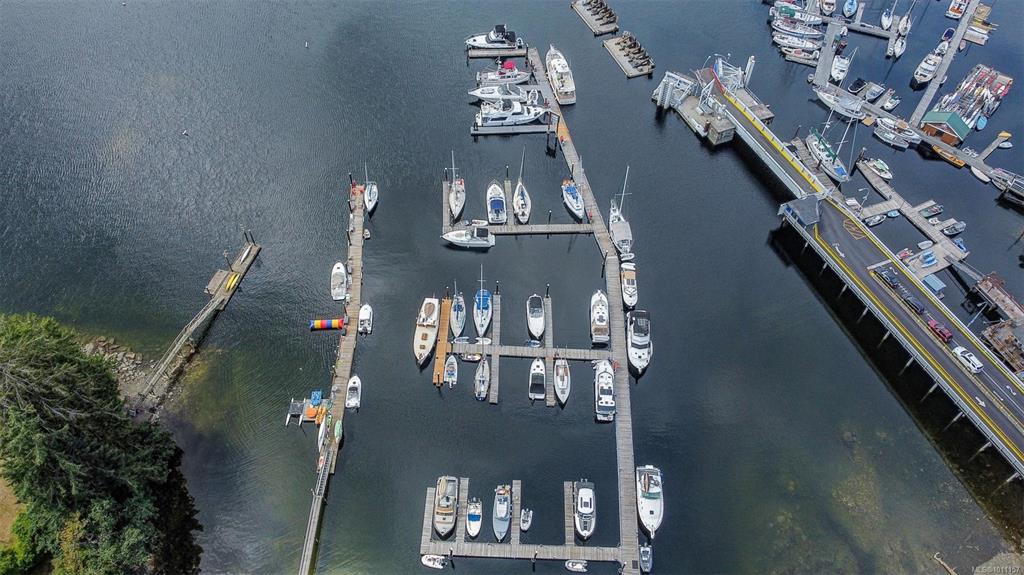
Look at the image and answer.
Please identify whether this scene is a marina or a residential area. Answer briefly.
marina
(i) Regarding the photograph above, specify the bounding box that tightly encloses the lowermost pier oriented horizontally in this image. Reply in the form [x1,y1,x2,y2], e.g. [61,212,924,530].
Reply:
[421,543,621,562]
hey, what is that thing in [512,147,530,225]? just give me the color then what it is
white boat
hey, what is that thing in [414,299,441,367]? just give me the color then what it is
white boat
